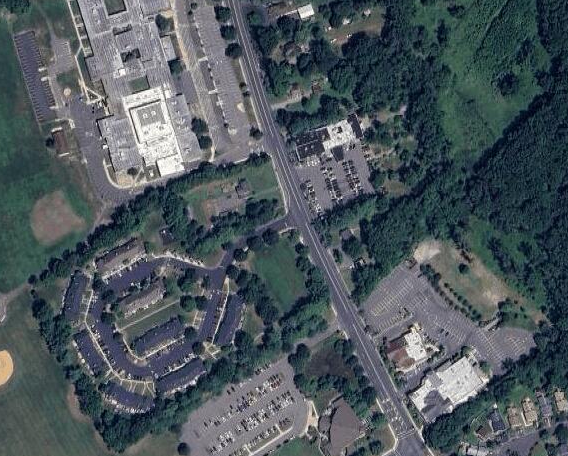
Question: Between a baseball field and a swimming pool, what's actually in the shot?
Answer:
baseball field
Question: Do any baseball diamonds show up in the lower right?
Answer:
No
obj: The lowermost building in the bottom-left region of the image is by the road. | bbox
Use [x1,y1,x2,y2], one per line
[102,380,156,412]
